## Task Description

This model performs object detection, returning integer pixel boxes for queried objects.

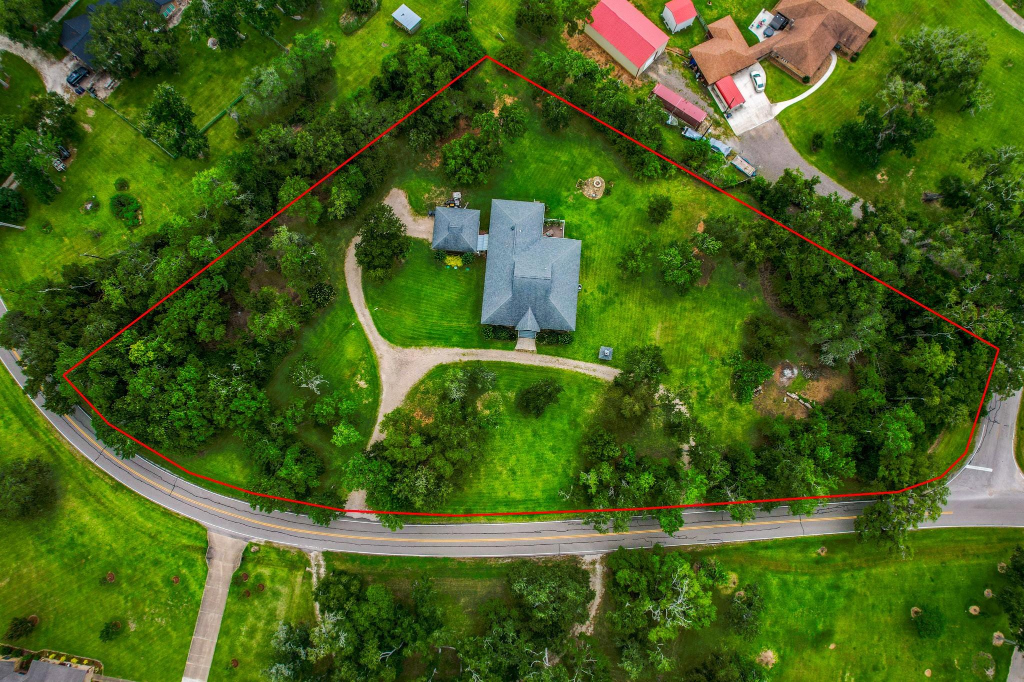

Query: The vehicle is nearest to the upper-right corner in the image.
[750,69,764,91]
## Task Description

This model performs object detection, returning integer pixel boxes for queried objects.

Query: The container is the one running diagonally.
[651,84,707,126]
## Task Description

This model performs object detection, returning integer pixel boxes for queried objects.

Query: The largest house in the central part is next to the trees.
[481,197,582,340]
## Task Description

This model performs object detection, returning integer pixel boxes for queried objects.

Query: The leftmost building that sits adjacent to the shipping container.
[584,0,669,76]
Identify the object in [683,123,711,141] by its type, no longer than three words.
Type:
boat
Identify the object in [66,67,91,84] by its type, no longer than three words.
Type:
car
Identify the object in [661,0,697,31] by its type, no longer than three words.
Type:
shed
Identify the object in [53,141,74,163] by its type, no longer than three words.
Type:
truck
